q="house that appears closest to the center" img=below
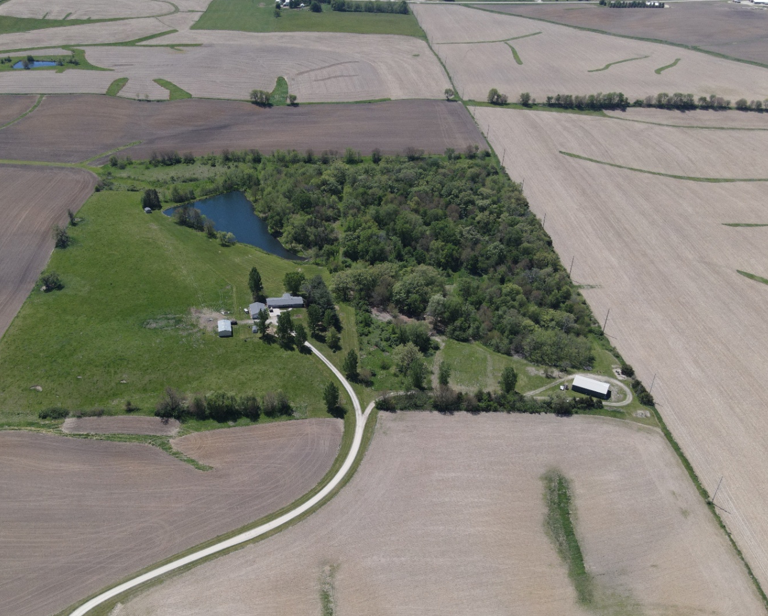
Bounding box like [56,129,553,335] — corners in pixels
[266,287,305,308]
